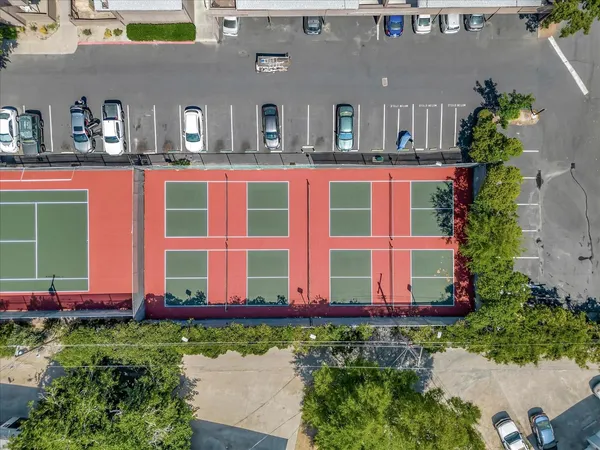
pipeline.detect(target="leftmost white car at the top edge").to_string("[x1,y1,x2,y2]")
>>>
[223,16,240,36]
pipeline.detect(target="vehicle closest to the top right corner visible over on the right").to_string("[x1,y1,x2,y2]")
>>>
[464,16,483,32]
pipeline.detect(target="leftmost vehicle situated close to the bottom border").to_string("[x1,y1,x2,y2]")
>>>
[496,421,526,450]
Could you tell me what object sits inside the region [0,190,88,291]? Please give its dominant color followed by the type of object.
green tennis court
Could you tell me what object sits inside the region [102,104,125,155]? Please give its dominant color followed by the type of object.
white truck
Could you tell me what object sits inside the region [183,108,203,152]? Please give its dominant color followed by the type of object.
white car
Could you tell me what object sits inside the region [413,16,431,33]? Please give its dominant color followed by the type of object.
white car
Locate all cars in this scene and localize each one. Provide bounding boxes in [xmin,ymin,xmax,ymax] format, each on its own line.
[19,113,45,155]
[183,108,203,152]
[529,419,559,450]
[335,106,356,151]
[0,107,18,154]
[223,16,240,36]
[305,16,321,33]
[413,16,431,33]
[384,16,402,36]
[261,106,281,151]
[496,421,526,450]
[438,16,459,33]
[464,16,483,32]
[72,109,101,152]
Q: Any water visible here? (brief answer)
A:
No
